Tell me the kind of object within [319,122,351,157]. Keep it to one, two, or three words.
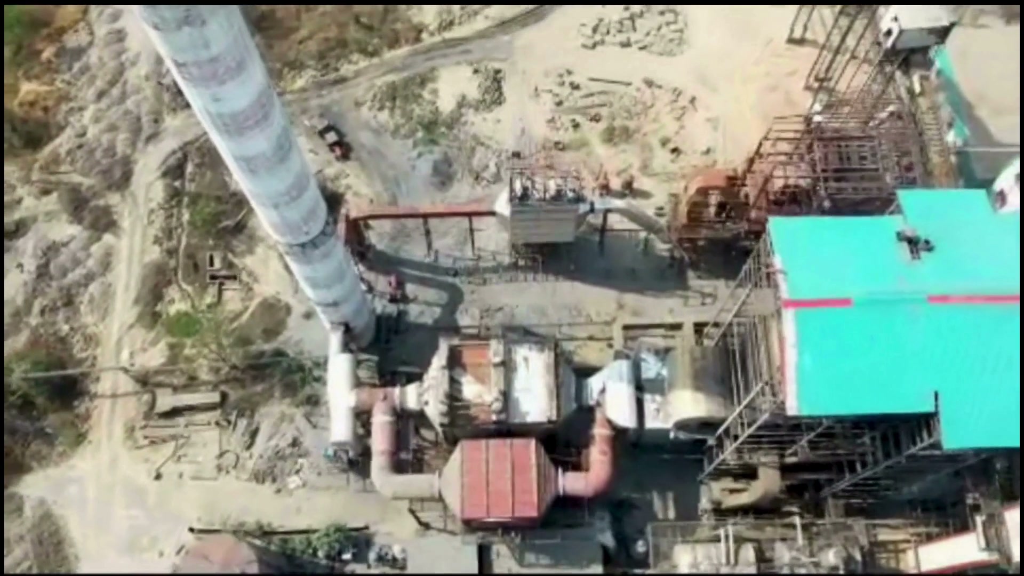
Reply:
work vehicle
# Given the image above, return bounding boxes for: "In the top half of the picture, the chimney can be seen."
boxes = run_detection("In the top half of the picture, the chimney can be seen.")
[125,0,379,357]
